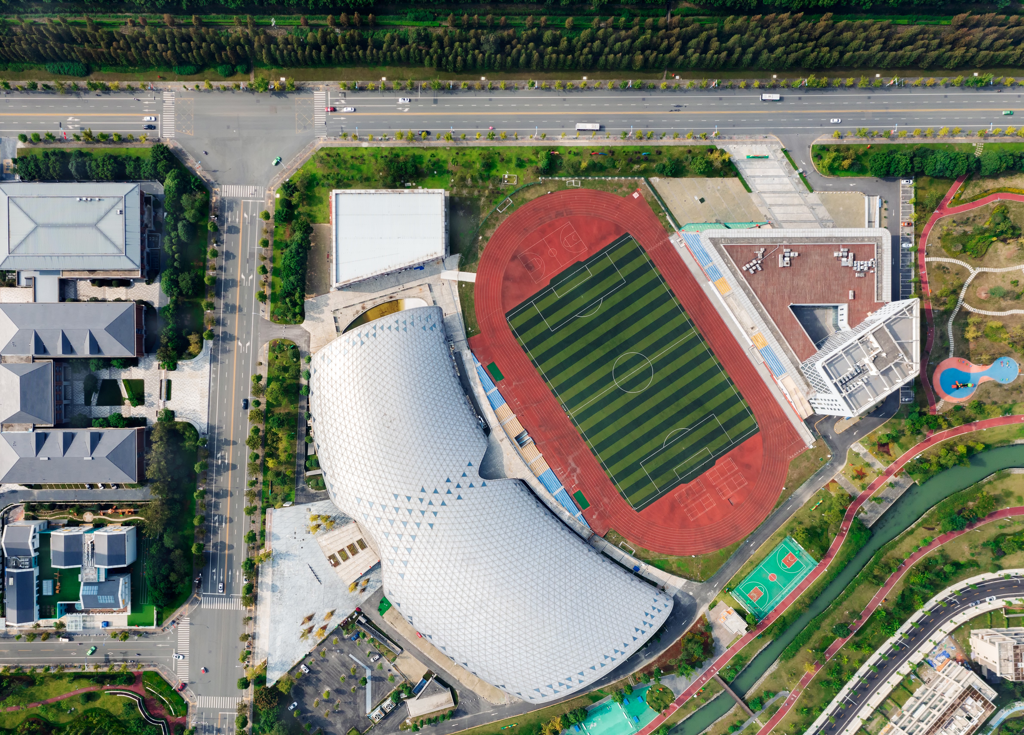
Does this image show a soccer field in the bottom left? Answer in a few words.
No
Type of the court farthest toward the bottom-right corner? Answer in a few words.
basketball court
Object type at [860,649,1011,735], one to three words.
house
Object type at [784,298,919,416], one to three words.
building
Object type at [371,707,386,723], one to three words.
cooling tower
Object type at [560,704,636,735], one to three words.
sports court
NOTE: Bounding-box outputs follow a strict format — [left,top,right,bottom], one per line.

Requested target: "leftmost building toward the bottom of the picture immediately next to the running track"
[310,307,674,703]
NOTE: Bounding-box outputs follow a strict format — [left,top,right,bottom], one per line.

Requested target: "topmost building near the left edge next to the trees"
[0,182,160,280]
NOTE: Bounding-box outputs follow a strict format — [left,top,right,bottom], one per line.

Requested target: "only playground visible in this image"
[933,357,1018,402]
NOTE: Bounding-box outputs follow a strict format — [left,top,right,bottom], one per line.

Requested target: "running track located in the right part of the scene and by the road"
[465,189,807,557]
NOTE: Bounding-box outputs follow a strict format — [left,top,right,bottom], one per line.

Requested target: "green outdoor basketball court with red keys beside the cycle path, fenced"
[731,536,813,619]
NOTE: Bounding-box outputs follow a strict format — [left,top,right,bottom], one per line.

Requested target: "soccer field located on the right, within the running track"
[501,229,761,515]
